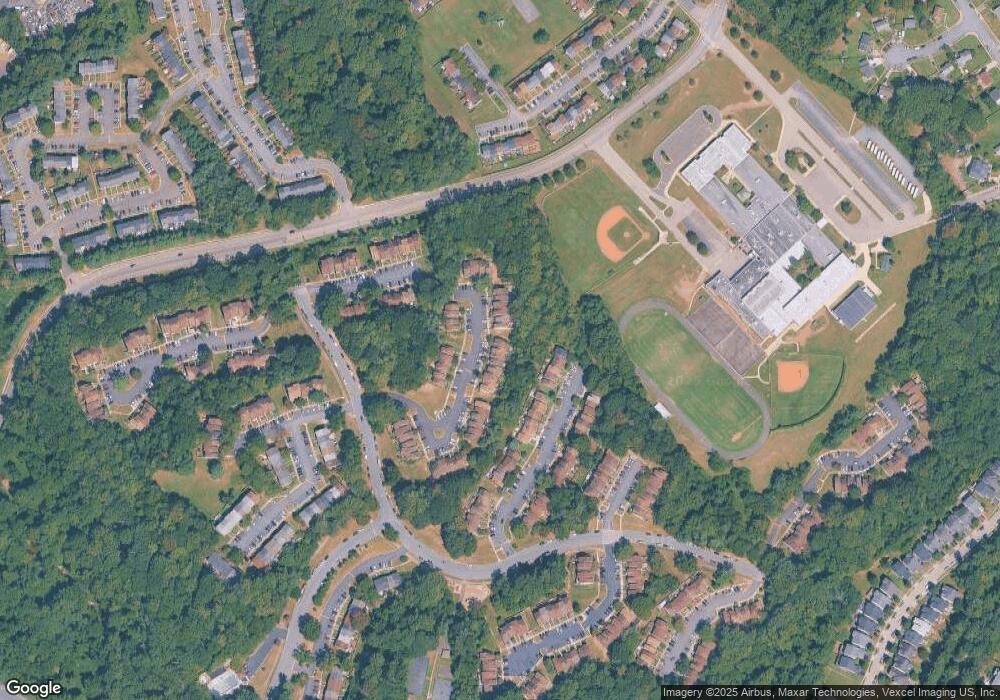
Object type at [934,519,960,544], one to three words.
house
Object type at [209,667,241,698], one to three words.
house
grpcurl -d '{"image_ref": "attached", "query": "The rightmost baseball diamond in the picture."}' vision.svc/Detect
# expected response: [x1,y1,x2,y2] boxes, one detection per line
[771,352,845,428]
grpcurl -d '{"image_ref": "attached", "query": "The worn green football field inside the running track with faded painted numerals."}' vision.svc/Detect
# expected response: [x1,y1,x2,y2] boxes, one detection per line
[625,305,764,452]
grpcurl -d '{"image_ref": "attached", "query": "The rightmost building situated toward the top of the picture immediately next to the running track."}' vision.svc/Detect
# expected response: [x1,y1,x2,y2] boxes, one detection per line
[682,123,859,341]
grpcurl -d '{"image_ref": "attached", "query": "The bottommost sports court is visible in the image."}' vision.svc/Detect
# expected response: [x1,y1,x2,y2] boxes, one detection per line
[717,327,768,376]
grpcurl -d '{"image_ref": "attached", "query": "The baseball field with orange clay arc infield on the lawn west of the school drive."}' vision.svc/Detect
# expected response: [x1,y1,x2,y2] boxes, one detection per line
[598,206,661,263]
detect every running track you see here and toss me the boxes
[618,297,771,460]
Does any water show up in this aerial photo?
No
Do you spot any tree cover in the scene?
Yes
